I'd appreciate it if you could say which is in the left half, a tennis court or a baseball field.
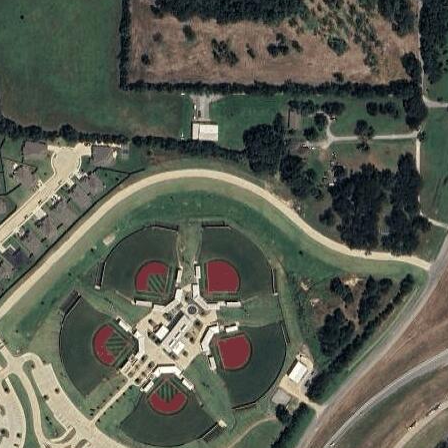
baseball field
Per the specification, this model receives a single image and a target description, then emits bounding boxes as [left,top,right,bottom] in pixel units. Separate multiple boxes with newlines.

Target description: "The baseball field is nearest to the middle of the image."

[200,227,275,303]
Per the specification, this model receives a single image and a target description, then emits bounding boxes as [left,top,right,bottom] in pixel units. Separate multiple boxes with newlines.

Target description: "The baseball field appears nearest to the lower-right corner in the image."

[210,321,286,409]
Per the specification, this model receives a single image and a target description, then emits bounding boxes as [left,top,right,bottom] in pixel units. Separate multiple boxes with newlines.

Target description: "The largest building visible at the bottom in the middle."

[162,314,193,348]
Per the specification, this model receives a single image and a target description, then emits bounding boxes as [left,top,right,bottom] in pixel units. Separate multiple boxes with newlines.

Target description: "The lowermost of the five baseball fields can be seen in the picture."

[121,376,217,447]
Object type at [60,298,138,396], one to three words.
baseball field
